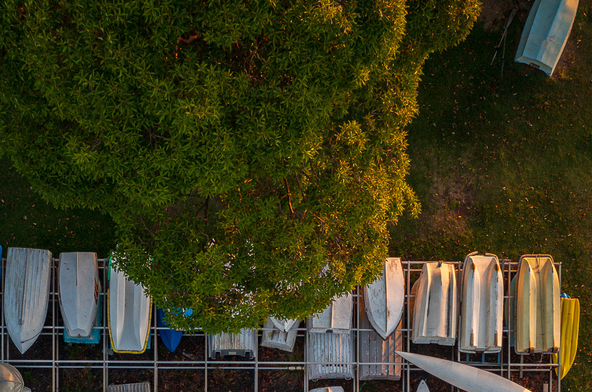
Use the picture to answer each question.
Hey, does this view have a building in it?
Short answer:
No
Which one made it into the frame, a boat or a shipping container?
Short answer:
boat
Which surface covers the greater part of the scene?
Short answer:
trees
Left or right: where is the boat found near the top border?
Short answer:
right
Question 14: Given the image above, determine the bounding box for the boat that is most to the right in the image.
[558,298,581,378]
